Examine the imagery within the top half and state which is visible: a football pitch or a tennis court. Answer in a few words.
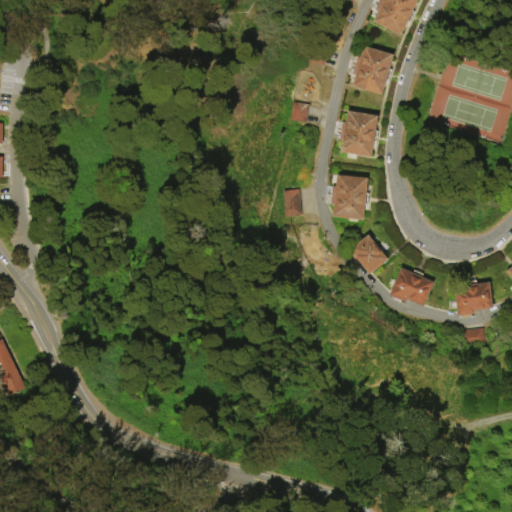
tennis court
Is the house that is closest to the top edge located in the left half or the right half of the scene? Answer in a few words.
right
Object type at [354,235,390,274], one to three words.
house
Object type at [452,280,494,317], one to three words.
house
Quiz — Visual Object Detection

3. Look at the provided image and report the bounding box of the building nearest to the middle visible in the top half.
[284,188,304,216]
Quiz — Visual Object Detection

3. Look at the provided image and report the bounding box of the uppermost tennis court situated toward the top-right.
[438,56,512,108]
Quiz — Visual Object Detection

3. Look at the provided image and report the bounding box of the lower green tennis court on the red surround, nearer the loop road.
[428,86,512,142]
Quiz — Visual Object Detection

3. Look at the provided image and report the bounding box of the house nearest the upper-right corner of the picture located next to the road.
[372,0,418,33]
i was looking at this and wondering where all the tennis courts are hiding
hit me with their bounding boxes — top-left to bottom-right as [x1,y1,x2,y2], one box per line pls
[428,86,512,142]
[438,56,512,108]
